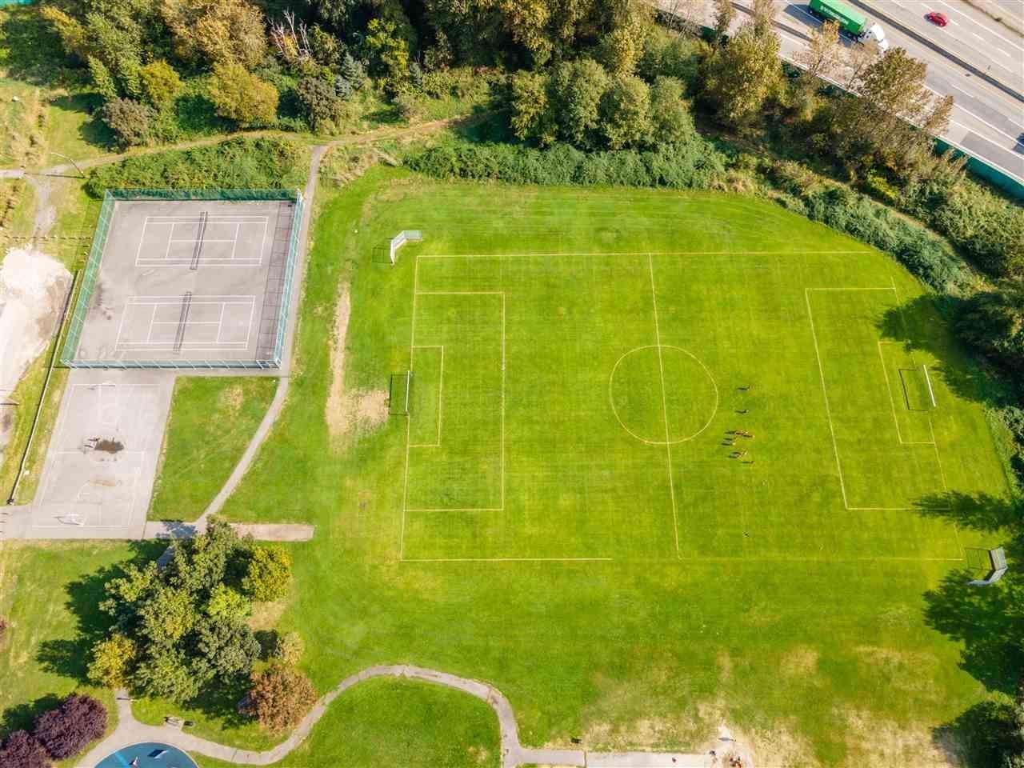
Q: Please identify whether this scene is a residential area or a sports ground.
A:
sports ground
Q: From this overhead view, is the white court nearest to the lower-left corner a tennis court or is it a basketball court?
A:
basketball court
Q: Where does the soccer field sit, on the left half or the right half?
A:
right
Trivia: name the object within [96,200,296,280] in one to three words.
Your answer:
tennis court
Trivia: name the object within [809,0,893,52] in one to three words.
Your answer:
truck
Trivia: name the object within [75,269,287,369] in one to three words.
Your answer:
tennis court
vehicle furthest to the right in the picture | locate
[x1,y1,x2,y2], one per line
[928,11,950,25]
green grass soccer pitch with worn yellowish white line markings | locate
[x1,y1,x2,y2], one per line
[393,249,963,567]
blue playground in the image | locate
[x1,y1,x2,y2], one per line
[100,740,192,768]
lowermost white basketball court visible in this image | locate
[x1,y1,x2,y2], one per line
[32,371,174,539]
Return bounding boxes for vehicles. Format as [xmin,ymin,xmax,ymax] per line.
[809,0,893,52]
[928,11,950,25]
